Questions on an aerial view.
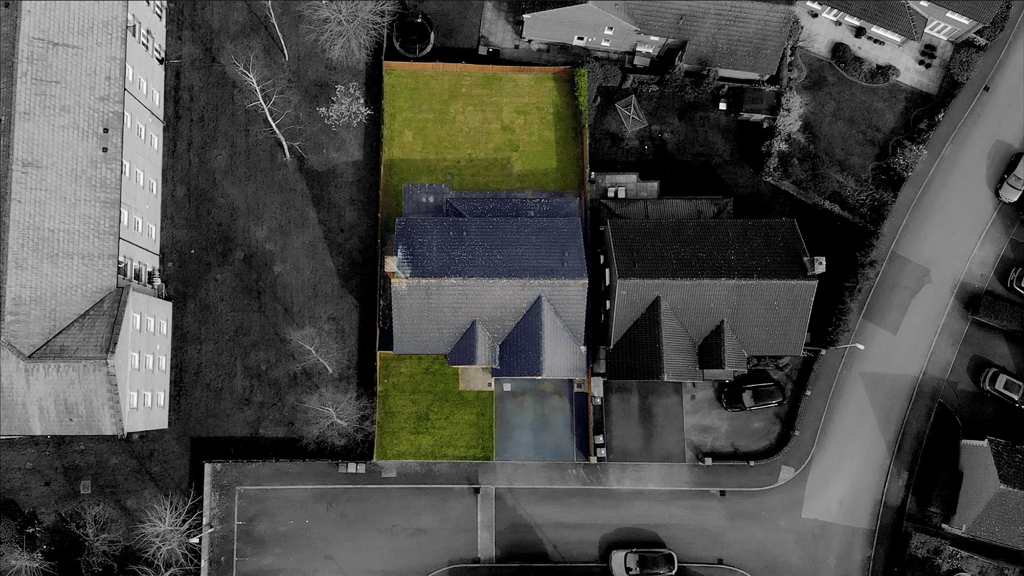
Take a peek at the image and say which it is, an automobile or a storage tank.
automobile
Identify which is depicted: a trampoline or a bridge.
trampoline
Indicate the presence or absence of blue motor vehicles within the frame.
No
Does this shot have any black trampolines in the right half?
No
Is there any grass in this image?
Yes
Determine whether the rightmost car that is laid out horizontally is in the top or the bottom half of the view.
bottom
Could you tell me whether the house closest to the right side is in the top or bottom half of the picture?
bottom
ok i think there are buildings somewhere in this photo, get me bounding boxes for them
[384,197,591,379]
[0,0,172,437]
[935,436,1024,541]
[730,89,779,127]
[519,0,795,80]
[598,198,827,381]
[798,0,1009,49]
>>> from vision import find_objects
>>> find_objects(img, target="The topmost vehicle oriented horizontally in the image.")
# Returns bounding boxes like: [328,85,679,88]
[720,379,786,413]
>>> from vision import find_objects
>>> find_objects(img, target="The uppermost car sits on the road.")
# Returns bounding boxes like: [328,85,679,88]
[999,148,1024,202]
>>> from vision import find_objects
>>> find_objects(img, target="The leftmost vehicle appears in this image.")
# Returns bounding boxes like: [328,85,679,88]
[609,546,677,576]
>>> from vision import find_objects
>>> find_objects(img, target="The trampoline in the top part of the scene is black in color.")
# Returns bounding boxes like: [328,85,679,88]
[392,12,431,60]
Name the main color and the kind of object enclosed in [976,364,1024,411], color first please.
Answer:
black car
